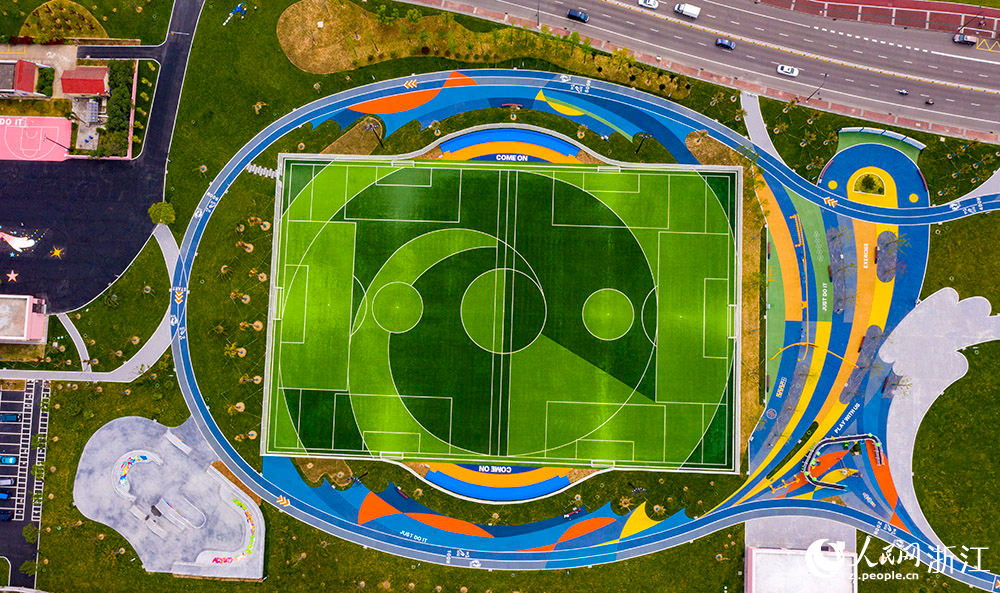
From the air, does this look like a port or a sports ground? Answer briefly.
sports ground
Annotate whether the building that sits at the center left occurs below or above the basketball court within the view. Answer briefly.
below it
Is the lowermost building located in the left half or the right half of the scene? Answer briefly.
right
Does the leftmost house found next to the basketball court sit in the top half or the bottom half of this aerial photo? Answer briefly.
top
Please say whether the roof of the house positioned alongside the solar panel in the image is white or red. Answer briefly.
red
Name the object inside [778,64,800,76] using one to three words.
vehicle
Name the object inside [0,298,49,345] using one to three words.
building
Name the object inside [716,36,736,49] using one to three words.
vehicle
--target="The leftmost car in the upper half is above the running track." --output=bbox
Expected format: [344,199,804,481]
[567,6,589,21]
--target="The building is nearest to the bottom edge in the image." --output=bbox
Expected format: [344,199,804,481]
[748,547,860,593]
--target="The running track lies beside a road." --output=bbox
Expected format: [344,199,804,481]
[169,67,1000,593]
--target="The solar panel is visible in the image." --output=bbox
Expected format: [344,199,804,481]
[87,102,104,125]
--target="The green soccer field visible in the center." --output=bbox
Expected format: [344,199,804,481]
[267,128,737,472]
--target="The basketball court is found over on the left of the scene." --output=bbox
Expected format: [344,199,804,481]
[0,115,71,161]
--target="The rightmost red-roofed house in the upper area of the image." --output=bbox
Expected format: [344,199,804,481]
[61,66,113,97]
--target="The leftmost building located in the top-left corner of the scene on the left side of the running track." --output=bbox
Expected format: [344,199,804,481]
[0,61,46,97]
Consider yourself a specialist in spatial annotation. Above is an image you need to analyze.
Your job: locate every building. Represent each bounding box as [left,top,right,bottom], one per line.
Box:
[748,547,860,593]
[61,66,113,97]
[0,298,49,345]
[0,61,46,97]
